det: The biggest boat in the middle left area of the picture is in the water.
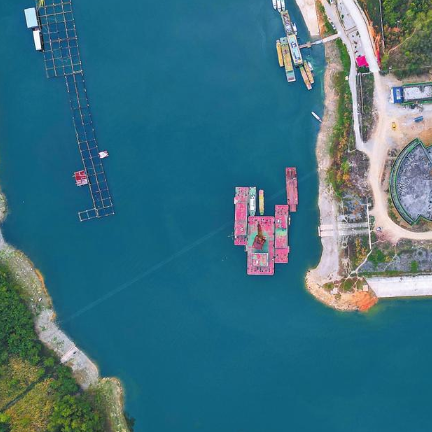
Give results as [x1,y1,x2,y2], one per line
[75,170,90,185]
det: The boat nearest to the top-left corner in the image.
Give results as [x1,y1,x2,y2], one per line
[25,8,42,31]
